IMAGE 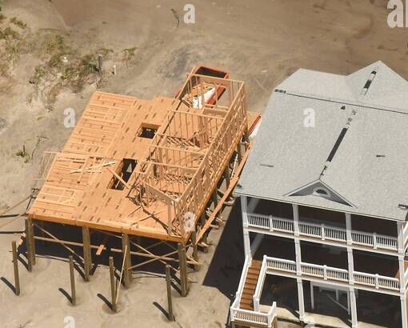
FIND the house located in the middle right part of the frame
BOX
[227,56,408,328]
